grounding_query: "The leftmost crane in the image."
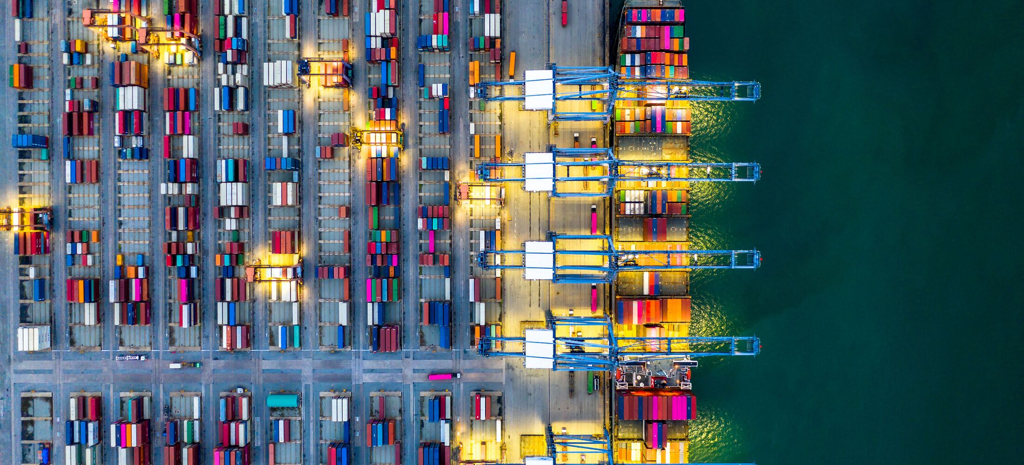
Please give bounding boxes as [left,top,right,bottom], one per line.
[0,205,55,234]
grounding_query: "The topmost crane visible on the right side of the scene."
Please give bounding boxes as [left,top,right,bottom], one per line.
[475,67,760,132]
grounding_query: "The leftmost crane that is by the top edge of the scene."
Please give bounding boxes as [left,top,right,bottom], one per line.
[83,8,153,43]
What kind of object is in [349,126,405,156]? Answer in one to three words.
crane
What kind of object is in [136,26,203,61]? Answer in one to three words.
crane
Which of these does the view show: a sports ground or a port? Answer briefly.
port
